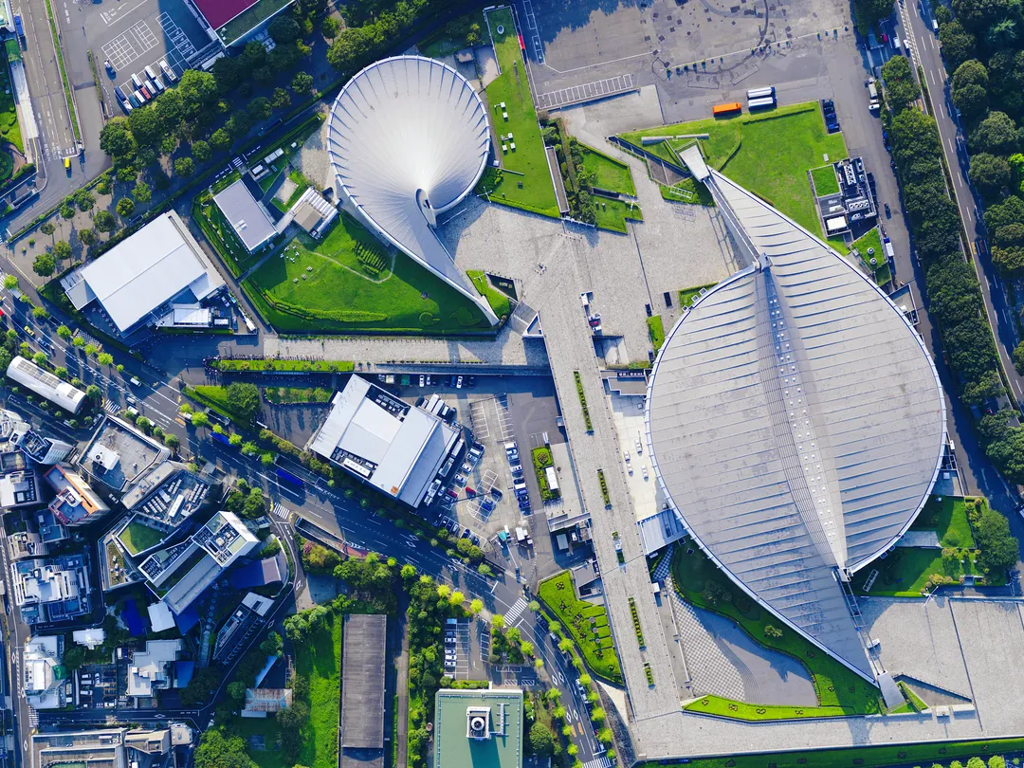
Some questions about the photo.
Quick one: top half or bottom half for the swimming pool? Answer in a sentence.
Seen from above, the swimming pool lies in the bottom half of the view.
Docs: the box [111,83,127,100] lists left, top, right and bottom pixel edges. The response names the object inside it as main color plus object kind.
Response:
blue vehicle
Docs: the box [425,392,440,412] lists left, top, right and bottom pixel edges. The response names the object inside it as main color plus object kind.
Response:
white vehicle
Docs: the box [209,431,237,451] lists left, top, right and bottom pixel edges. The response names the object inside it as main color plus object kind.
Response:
blue bus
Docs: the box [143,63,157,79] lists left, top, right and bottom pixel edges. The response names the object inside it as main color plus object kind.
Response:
white vehicle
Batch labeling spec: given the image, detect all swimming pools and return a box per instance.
[122,599,146,637]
